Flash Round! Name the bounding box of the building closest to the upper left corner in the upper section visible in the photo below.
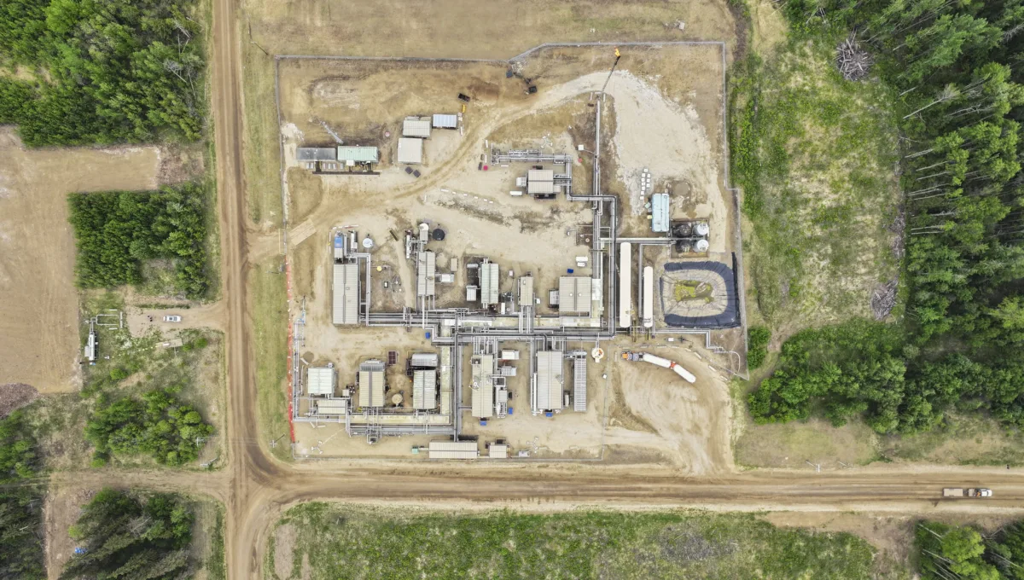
[338,145,379,168]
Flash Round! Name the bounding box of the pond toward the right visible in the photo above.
[661,253,742,330]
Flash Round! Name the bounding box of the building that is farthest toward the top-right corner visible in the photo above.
[649,193,669,232]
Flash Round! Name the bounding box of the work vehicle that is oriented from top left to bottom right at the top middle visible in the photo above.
[517,73,538,94]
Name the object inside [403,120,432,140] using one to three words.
shed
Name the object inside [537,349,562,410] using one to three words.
building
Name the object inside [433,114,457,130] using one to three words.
shed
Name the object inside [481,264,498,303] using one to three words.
building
